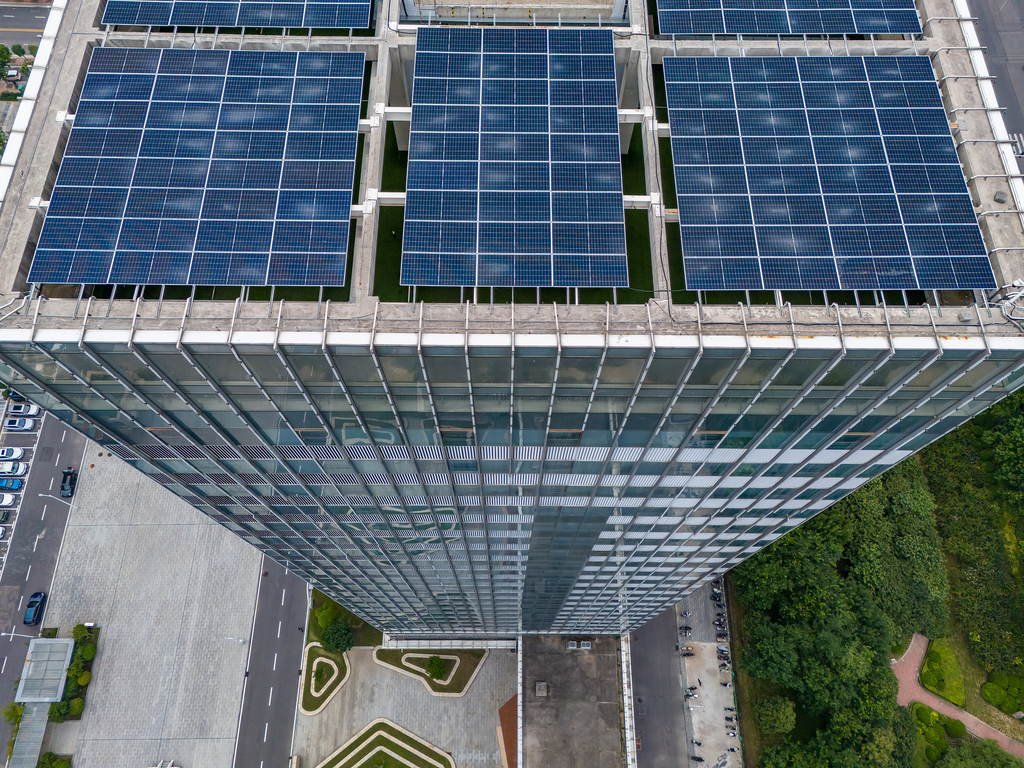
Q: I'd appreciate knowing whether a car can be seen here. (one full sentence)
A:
Yes, there is a car in the image.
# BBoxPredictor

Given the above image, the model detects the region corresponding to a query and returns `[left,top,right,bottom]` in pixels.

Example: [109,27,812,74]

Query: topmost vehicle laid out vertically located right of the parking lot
[59,463,79,499]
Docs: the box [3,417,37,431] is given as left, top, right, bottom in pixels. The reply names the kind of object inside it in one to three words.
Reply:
car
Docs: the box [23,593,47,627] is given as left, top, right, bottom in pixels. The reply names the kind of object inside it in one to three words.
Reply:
car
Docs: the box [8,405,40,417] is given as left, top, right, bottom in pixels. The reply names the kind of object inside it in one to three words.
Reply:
vehicle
